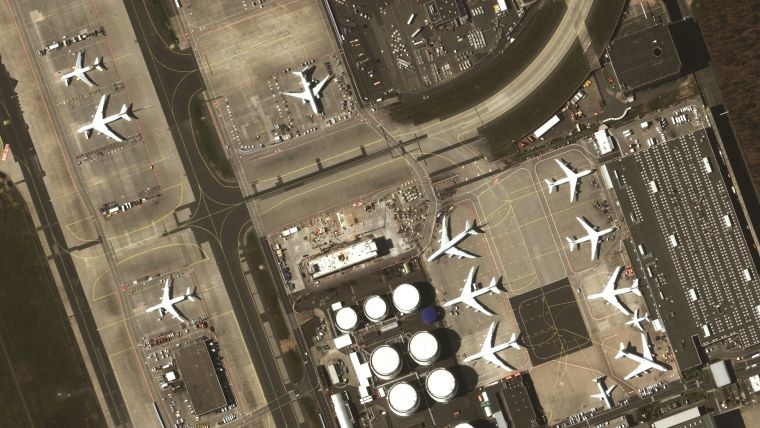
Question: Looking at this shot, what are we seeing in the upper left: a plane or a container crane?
plane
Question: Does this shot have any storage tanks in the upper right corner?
No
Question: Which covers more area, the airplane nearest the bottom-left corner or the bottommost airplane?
the airplane nearest the bottom-left corner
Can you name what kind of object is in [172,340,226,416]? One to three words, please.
building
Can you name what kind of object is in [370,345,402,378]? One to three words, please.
storage tank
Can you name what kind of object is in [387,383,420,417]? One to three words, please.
storage tank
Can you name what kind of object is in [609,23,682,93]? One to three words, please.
hangar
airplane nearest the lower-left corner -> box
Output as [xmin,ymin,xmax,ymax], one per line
[146,278,196,324]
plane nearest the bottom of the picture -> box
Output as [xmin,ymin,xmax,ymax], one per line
[591,375,618,408]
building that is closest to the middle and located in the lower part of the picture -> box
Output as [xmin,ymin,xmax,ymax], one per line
[309,241,379,279]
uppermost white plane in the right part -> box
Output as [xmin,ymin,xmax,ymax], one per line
[543,157,593,202]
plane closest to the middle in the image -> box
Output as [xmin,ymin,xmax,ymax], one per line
[427,214,482,262]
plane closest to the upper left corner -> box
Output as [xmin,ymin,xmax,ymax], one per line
[63,50,105,86]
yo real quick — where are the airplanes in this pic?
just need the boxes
[543,157,593,202]
[588,265,641,315]
[591,375,618,408]
[566,216,615,260]
[63,50,105,86]
[146,278,196,324]
[427,214,482,262]
[464,322,522,373]
[444,266,501,317]
[626,309,649,331]
[280,66,330,113]
[79,95,133,143]
[615,333,671,383]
